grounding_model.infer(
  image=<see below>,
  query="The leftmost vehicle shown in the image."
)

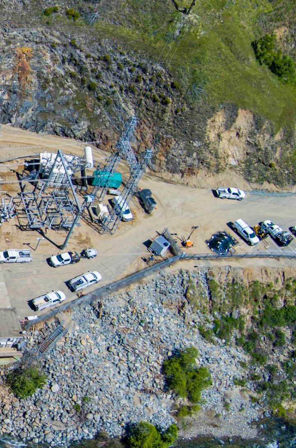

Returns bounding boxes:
[0,248,35,263]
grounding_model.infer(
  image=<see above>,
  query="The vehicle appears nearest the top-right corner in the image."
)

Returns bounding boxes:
[214,188,247,203]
